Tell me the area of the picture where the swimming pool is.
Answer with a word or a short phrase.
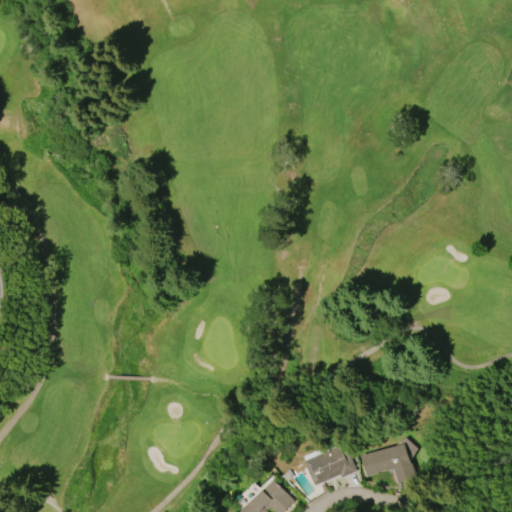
bottom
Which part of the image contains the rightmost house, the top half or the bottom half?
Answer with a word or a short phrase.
bottom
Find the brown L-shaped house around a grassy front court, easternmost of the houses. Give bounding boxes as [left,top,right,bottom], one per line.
[362,438,419,482]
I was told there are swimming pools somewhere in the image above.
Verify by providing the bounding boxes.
[294,473,315,496]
